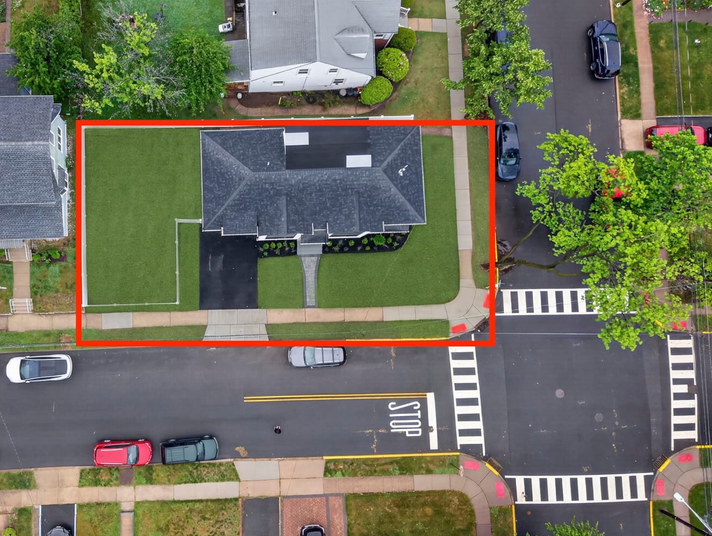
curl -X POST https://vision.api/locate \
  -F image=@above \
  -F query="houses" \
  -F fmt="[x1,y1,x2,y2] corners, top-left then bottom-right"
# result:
[224,0,401,98]
[0,52,76,261]
[199,123,428,255]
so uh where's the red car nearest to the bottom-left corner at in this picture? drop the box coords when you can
[92,438,156,469]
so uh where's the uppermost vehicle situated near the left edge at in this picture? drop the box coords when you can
[5,354,74,384]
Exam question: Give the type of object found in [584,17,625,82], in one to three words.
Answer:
car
